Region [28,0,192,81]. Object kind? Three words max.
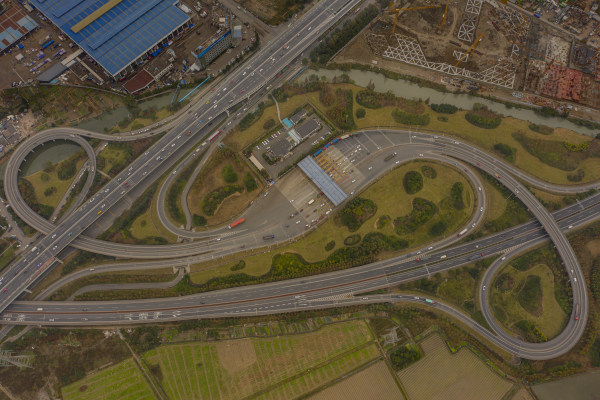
building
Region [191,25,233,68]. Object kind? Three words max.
building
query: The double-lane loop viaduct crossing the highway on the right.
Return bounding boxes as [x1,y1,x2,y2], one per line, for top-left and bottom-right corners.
[434,141,588,359]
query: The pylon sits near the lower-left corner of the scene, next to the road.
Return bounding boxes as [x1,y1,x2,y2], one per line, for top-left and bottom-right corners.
[1,344,37,372]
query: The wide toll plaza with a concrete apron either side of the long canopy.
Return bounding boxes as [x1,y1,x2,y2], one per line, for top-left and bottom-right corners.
[209,128,449,257]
